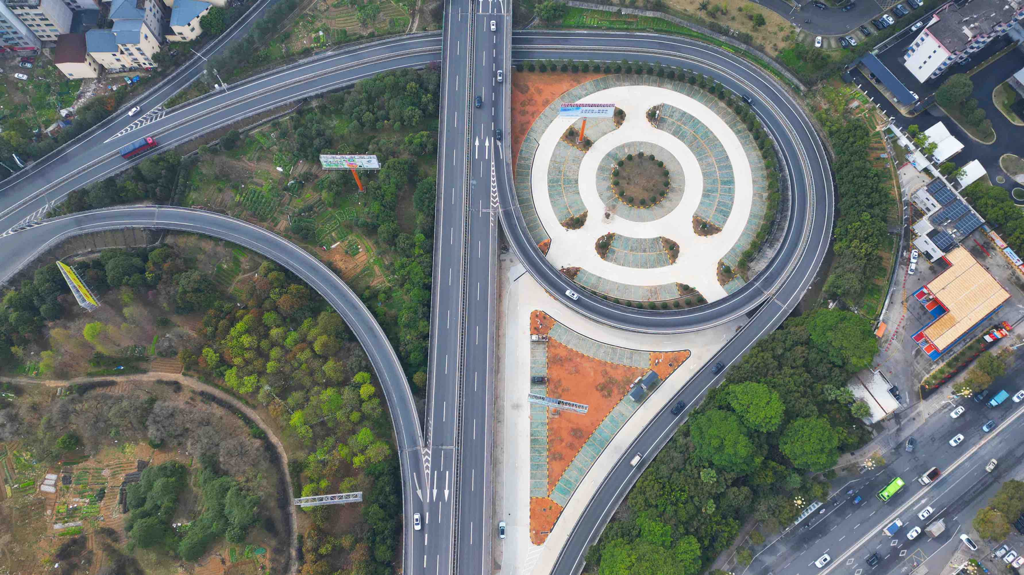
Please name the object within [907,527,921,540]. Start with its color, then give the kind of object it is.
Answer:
white vehicle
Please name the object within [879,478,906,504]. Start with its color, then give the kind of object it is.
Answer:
green bus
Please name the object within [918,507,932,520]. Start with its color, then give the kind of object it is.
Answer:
white vehicle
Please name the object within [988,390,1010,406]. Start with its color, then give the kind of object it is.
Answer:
blue vehicle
